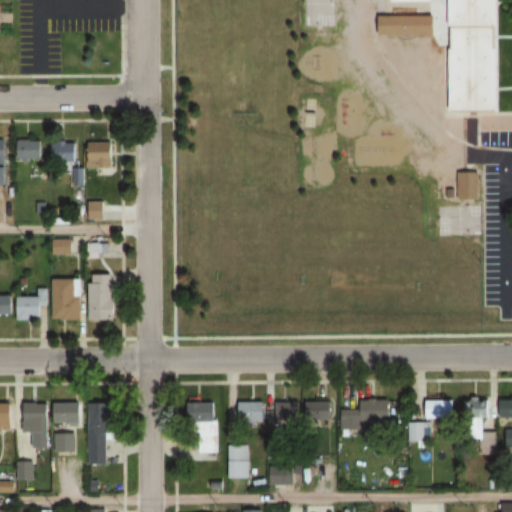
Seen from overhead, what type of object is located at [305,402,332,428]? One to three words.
house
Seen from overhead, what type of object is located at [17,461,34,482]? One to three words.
building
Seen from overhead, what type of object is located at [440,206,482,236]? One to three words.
basketball court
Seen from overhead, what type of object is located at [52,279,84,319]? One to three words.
house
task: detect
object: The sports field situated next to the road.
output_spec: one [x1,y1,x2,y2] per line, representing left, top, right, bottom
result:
[178,0,482,336]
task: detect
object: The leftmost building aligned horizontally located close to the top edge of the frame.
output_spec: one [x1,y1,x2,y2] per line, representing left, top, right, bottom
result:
[378,14,432,36]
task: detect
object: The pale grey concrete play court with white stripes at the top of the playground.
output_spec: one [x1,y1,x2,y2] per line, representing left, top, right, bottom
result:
[306,0,336,27]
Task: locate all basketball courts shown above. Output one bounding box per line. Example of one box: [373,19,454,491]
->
[306,0,336,27]
[440,206,482,236]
